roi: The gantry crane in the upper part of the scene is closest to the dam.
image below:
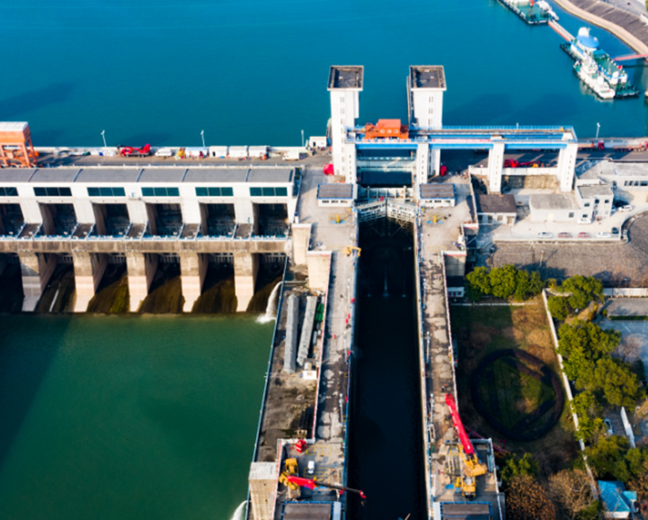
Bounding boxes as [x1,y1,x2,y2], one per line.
[0,119,43,167]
